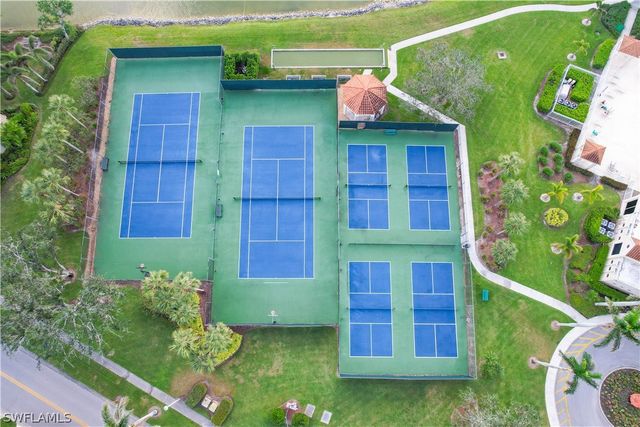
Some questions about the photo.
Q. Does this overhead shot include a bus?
No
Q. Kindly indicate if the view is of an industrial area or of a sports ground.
sports ground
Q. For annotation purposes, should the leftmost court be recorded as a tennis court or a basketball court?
tennis court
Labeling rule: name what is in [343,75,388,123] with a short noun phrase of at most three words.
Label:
gazebo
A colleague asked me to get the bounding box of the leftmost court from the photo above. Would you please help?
[93,56,222,281]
